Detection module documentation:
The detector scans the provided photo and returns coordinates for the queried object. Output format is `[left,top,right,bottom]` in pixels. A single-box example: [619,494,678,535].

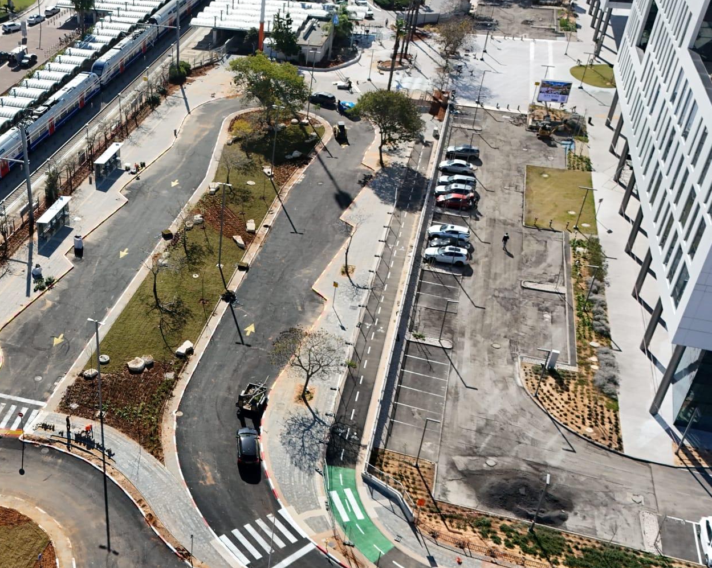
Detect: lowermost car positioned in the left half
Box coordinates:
[234,430,263,473]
